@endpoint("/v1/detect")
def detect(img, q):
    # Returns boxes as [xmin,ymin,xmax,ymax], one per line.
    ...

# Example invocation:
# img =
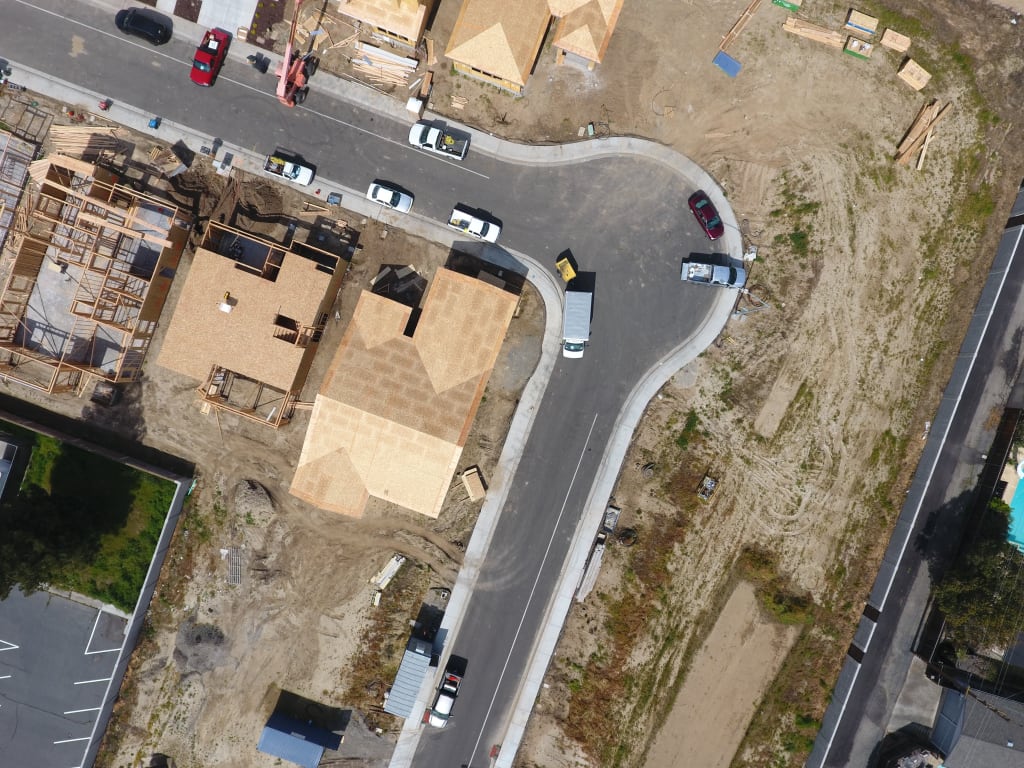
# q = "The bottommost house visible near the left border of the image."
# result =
[0,435,35,503]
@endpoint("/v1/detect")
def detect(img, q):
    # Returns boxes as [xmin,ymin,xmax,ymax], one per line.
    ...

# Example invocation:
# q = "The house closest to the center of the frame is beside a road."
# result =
[291,265,517,518]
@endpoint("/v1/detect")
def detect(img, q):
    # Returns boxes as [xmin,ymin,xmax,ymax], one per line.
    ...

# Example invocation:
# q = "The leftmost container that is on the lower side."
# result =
[384,640,433,721]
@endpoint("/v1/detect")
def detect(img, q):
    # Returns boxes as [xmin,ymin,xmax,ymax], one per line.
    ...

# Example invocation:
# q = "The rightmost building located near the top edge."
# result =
[553,0,627,73]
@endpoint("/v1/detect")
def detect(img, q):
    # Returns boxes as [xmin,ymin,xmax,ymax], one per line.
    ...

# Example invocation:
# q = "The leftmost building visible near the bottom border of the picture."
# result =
[258,711,346,768]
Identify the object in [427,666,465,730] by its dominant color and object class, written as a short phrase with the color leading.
white truck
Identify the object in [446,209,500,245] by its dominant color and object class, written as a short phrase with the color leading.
white truck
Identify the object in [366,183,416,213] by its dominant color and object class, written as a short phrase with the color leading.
white car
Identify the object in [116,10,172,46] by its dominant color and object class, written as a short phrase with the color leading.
black car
